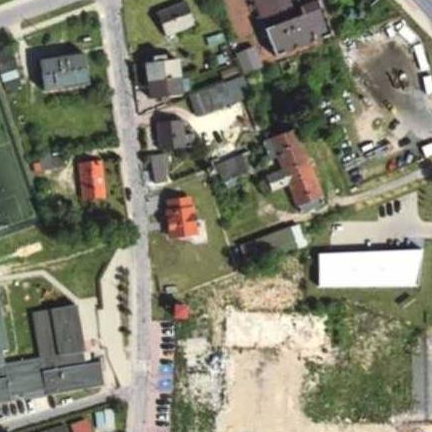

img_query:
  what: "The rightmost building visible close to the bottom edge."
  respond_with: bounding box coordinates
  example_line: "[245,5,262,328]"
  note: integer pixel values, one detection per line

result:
[94,410,116,430]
